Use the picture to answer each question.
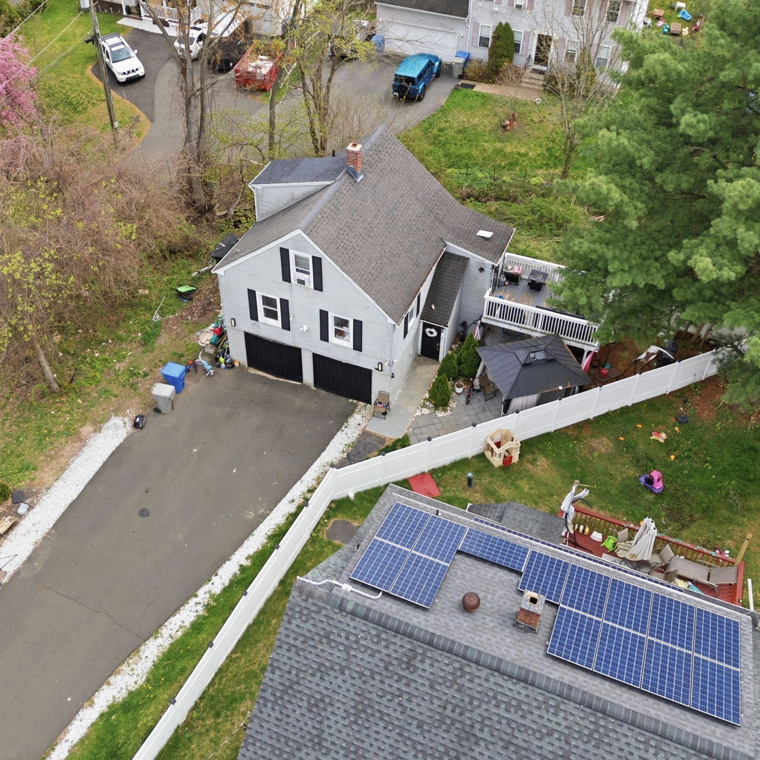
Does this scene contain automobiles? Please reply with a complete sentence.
Yes, I can see an automobile in this picture.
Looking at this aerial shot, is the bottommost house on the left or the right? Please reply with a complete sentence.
The bottommost house is on the right side of the image.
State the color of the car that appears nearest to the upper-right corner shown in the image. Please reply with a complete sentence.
From above, the car that appears nearest to the upper-right corner appears blue.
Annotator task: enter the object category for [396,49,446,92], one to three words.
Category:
car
